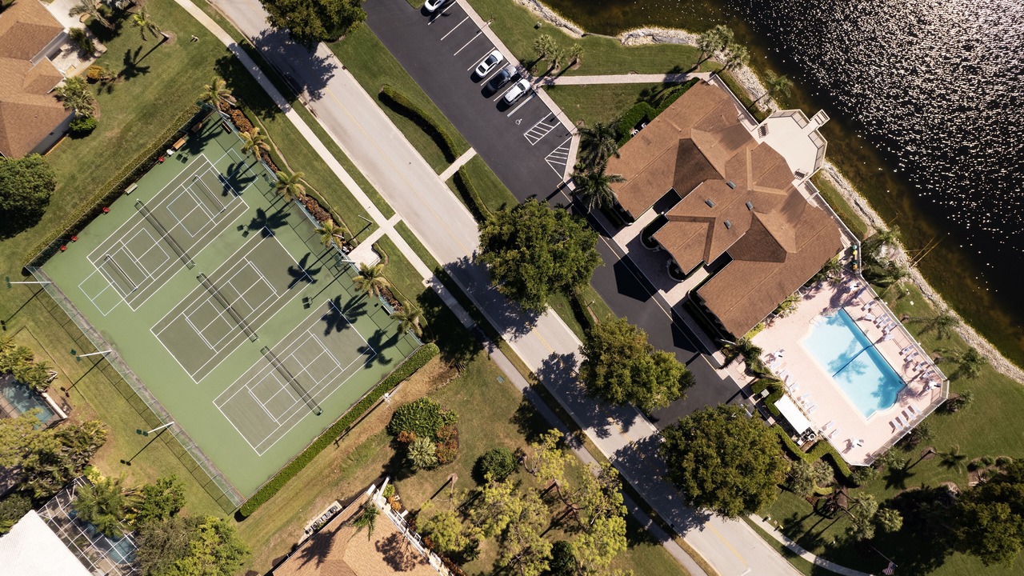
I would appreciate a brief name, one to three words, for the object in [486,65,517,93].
car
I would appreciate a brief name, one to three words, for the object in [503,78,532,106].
car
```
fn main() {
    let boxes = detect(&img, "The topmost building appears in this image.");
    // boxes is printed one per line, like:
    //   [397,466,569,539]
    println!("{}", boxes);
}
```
[0,0,80,172]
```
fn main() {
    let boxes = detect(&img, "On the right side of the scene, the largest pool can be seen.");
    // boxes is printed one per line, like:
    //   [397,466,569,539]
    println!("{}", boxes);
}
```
[751,244,947,463]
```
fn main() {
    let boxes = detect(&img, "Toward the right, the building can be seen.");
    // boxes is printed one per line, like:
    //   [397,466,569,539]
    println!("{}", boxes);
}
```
[600,80,843,339]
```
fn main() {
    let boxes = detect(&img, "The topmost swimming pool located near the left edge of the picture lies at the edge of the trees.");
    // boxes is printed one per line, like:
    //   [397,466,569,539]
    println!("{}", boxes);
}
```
[0,366,67,435]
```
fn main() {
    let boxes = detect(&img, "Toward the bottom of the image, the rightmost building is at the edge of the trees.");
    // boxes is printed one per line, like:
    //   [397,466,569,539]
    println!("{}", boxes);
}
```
[275,491,439,576]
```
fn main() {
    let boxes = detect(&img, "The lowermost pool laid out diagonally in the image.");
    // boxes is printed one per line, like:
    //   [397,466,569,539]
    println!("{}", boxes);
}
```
[44,478,163,576]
